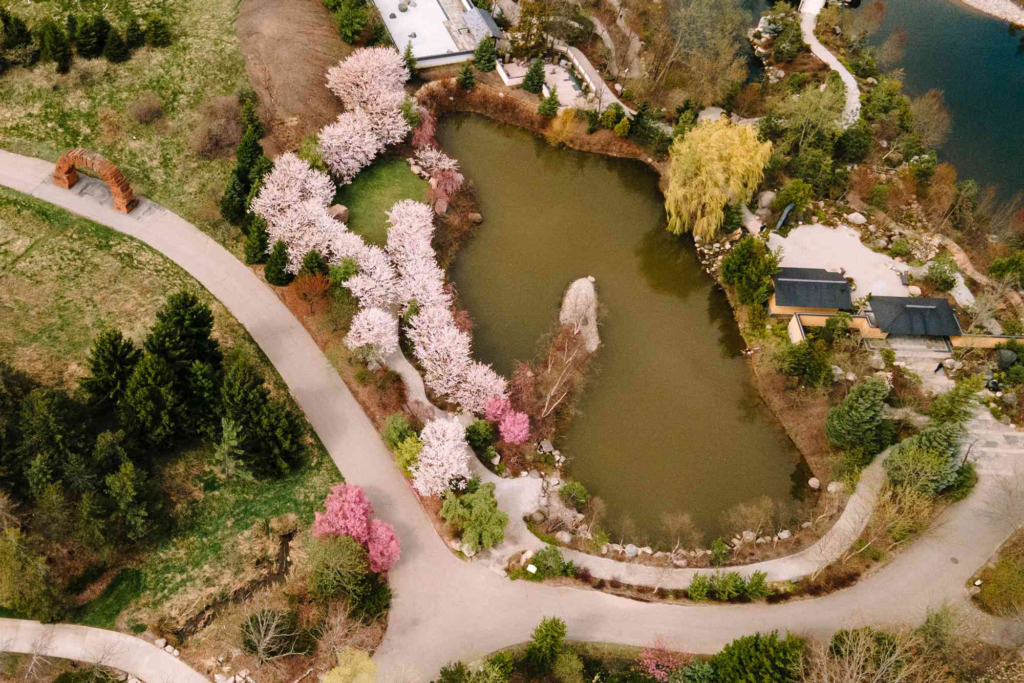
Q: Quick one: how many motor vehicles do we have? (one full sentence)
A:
No motor vehicles are visible.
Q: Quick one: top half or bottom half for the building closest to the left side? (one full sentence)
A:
Seen from above, the building closest to the left side lies in the top half of the view.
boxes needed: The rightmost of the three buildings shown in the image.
[870,296,964,360]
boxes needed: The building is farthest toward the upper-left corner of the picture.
[462,5,503,58]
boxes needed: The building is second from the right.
[768,268,852,330]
